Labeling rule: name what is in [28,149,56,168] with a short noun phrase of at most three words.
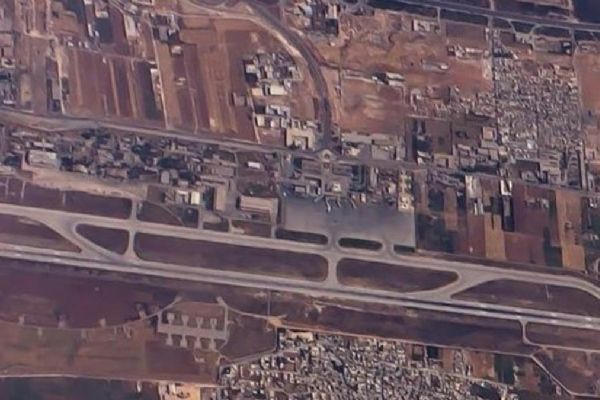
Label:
building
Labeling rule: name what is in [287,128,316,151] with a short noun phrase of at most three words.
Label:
building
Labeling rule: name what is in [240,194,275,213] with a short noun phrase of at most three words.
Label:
hangar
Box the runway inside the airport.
[0,245,600,329]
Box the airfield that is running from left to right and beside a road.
[0,176,600,351]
